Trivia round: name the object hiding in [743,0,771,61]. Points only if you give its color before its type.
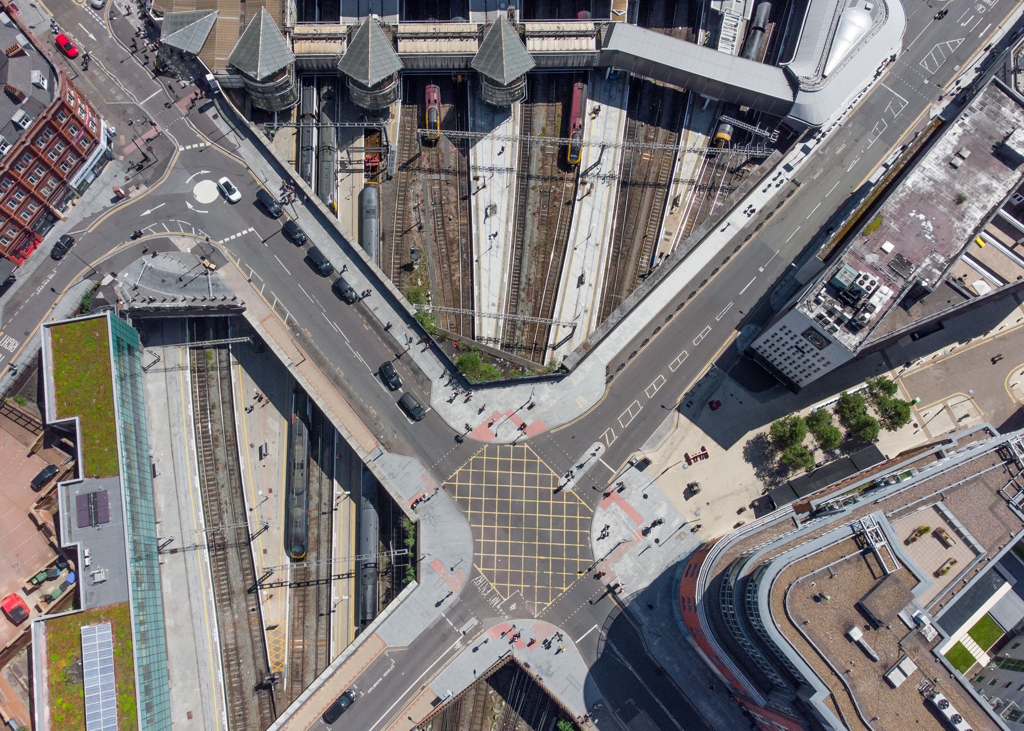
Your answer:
gray train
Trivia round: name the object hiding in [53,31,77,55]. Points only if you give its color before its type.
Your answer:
red car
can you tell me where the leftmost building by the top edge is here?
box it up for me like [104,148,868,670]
[0,0,111,267]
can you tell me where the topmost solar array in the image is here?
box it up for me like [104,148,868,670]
[75,489,110,528]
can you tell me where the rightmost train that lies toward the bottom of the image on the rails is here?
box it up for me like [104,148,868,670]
[359,459,383,625]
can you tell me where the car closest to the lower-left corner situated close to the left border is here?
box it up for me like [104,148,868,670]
[23,460,60,495]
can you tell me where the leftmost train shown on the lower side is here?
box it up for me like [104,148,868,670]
[289,376,316,562]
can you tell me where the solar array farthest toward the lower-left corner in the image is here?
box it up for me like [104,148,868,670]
[81,621,118,731]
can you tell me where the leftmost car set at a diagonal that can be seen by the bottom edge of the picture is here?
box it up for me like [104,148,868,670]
[319,687,359,727]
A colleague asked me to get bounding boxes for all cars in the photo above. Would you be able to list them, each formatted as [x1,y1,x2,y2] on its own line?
[319,687,359,727]
[53,31,77,55]
[23,460,60,495]
[45,230,76,259]
[375,357,404,391]
[329,273,359,304]
[278,215,308,245]
[397,388,426,423]
[304,243,334,275]
[253,185,283,215]
[215,173,239,201]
